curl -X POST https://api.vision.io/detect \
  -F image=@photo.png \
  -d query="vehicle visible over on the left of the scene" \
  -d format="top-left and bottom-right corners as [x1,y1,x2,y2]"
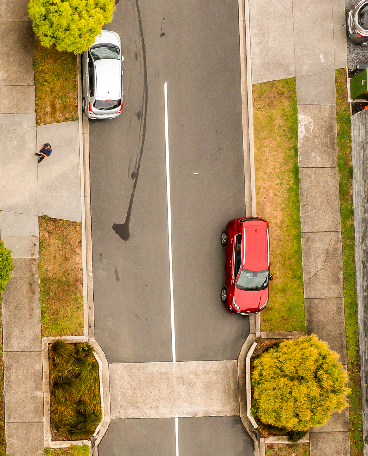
[79,31,128,123]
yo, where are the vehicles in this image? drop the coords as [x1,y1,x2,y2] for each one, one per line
[79,31,128,123]
[217,217,274,317]
[345,1,368,46]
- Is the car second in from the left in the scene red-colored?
Yes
